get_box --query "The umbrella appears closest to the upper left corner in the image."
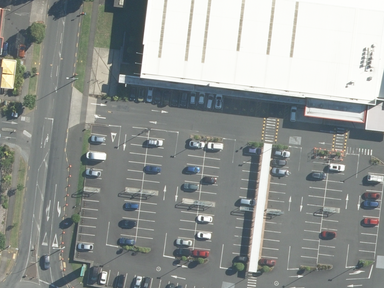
[2,59,17,74]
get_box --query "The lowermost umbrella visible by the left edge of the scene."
[0,74,15,89]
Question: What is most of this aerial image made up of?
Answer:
paved ground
